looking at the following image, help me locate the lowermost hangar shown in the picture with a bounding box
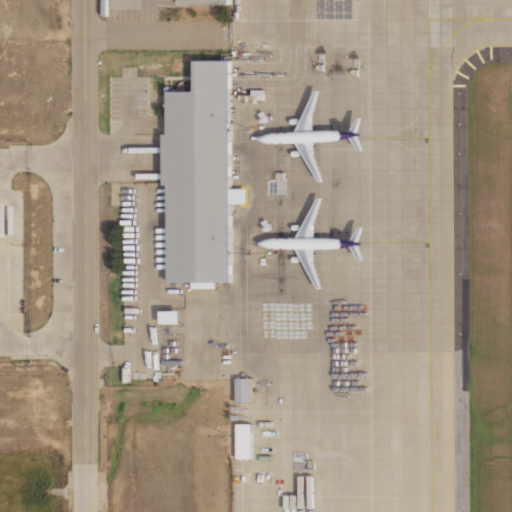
[235,424,252,460]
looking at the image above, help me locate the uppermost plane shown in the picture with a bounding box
[257,90,362,181]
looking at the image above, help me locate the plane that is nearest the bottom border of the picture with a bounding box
[257,199,362,289]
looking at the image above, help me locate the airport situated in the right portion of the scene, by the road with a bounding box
[232,0,512,512]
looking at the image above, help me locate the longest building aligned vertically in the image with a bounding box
[161,61,234,289]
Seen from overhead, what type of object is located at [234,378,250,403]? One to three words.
shed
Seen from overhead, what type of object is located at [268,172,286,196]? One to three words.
work vehicle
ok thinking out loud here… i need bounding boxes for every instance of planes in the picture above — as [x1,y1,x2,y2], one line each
[257,199,362,289]
[257,90,362,181]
